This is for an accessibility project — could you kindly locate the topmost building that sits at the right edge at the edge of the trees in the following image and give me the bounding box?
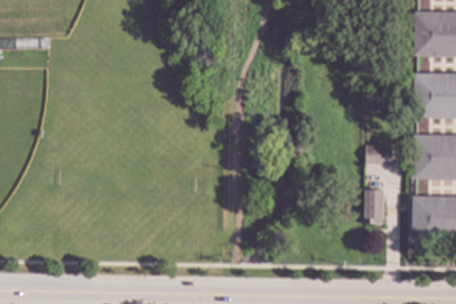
[416,11,456,56]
